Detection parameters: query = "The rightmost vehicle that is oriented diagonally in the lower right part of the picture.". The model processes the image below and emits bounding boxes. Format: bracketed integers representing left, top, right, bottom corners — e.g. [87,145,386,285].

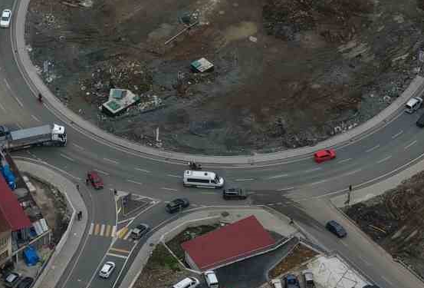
[325,218,347,238]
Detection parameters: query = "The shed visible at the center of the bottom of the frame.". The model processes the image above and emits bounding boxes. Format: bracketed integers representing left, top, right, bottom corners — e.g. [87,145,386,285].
[180,214,278,284]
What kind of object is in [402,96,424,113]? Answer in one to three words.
vehicle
